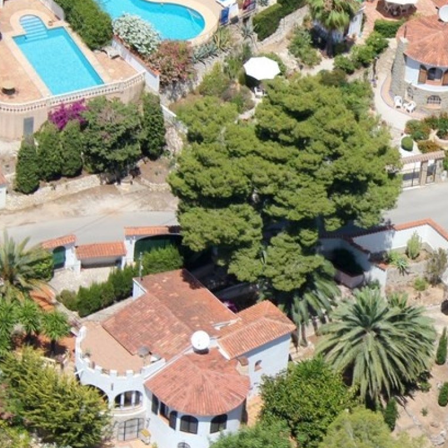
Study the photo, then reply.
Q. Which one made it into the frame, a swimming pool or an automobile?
swimming pool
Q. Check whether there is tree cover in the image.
Yes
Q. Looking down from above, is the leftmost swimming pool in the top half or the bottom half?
top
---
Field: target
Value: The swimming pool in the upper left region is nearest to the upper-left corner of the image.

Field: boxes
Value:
[1,10,114,99]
